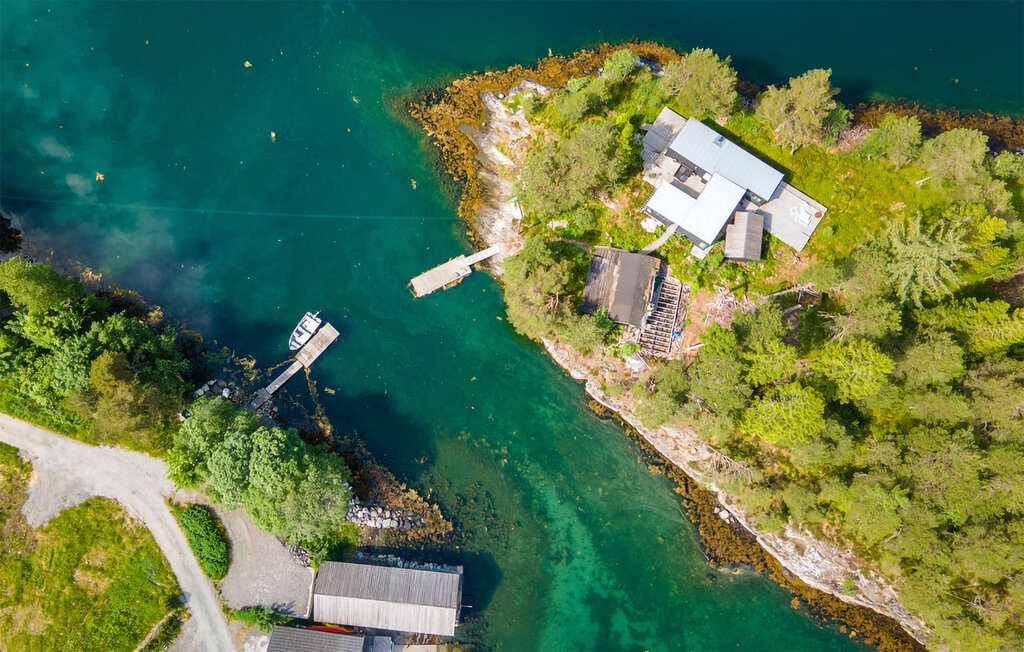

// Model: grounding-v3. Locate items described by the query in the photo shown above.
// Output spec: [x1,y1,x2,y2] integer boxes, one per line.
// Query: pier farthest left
[266,322,340,394]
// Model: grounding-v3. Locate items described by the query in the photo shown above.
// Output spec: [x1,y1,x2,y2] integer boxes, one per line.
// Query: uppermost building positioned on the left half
[314,555,473,635]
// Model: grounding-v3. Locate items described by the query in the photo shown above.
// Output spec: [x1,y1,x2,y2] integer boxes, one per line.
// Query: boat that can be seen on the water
[288,312,321,351]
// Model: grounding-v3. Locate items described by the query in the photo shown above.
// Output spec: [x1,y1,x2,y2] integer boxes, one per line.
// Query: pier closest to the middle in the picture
[411,244,501,297]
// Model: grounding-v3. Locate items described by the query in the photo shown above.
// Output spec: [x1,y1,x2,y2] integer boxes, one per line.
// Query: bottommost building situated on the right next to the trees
[583,247,660,327]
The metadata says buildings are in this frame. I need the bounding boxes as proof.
[314,555,473,635]
[267,622,364,652]
[583,247,660,327]
[632,116,786,247]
